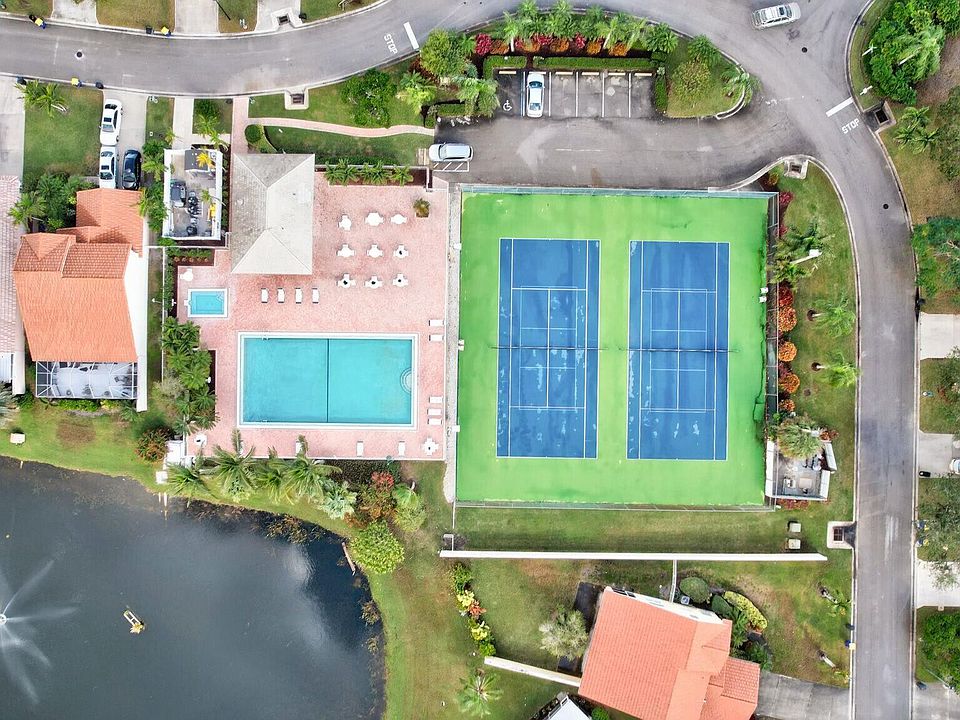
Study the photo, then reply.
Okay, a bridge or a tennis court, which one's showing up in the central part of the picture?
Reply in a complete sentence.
You can see a tennis court in the central part of the picture.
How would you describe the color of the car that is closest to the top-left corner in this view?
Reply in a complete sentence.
In this view, the car that is closest to the top-left corner is white.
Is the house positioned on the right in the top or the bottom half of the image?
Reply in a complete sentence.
The bottom half of the photo is where the house positioned on the right is.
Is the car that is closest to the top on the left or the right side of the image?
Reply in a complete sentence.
The car that is closest to the top is on the right side of the image.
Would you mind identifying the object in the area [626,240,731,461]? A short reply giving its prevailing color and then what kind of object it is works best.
blue tennis court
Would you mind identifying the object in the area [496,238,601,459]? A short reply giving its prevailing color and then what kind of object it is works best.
blue tennis court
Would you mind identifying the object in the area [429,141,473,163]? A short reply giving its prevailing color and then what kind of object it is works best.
white car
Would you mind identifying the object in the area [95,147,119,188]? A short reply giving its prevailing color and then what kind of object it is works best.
white car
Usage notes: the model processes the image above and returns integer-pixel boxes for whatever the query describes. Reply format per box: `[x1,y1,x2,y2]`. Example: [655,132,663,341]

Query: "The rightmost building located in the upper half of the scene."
[231,153,317,275]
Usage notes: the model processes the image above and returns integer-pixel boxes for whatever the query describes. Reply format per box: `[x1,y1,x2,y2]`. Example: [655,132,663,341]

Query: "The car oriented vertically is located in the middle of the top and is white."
[525,73,546,118]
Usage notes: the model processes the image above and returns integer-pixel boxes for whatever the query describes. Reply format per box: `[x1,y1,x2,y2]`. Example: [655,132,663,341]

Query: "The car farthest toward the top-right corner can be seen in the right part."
[751,1,801,31]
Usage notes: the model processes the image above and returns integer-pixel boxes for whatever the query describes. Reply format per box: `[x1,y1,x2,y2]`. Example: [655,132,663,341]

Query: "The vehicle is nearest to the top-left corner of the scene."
[98,98,125,146]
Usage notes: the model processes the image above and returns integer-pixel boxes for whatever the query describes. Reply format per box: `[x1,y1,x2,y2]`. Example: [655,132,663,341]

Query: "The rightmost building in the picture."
[578,581,761,720]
